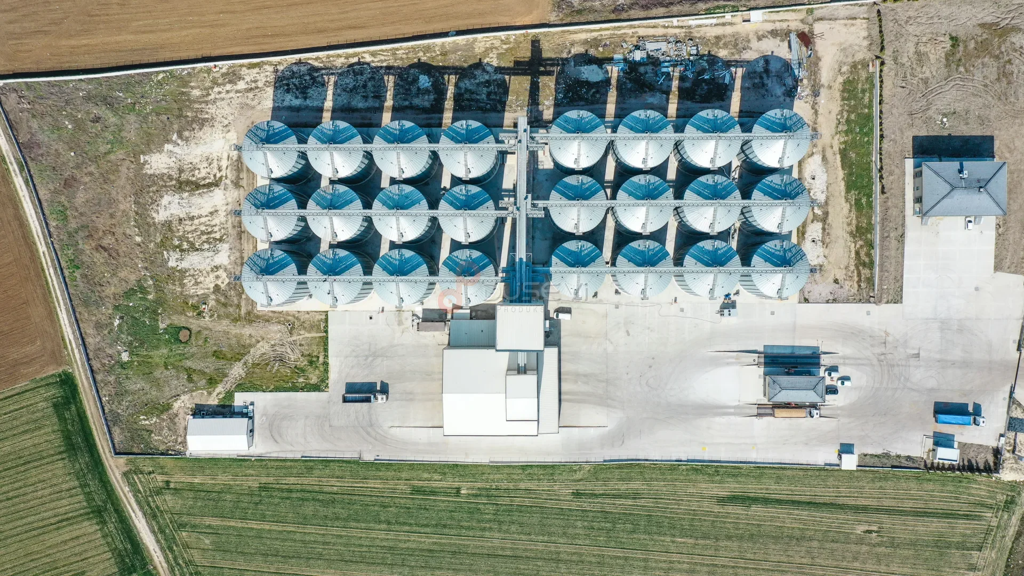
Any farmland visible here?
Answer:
Yes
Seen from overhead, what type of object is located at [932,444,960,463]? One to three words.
house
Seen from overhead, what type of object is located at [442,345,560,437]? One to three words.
building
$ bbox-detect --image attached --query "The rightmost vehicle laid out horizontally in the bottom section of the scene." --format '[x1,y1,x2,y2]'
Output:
[936,412,987,425]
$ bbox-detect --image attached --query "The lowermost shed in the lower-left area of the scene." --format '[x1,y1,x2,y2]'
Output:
[184,417,253,451]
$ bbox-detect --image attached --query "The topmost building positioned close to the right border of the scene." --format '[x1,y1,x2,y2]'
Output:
[913,161,1007,225]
